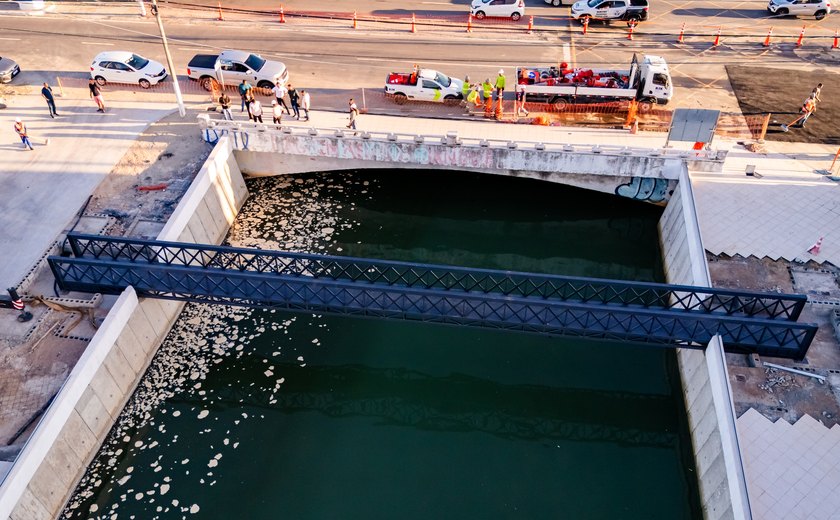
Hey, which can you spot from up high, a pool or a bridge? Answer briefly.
bridge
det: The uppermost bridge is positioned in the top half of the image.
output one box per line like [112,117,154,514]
[192,98,729,207]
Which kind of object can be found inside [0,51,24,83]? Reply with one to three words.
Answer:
car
